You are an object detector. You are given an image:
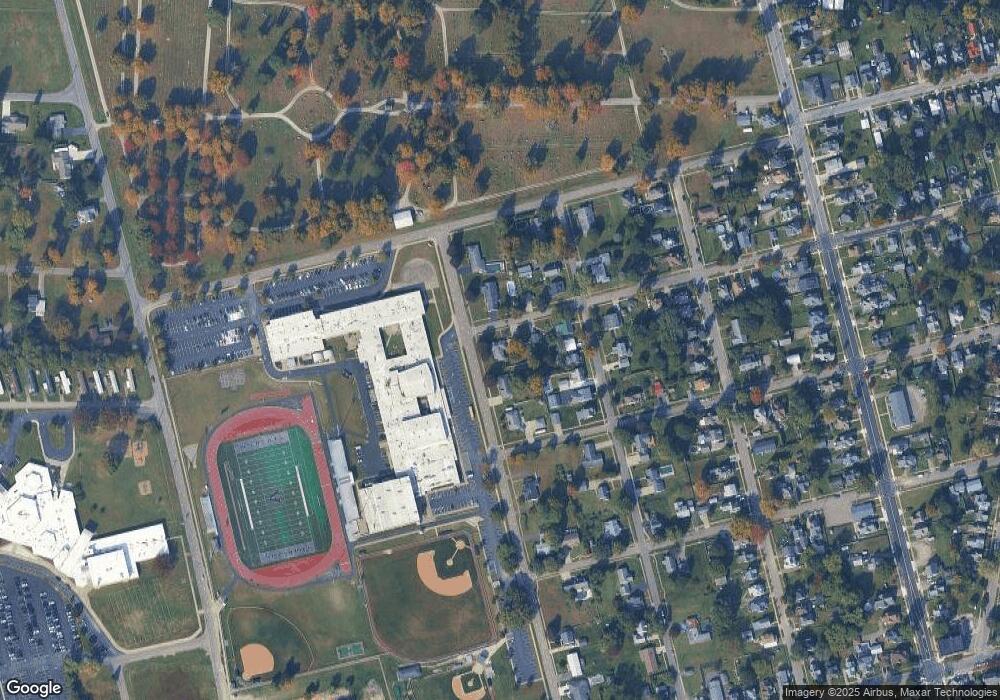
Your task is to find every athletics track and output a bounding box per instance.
[200,388,353,594]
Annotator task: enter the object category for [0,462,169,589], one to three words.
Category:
building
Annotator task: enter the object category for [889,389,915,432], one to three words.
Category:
building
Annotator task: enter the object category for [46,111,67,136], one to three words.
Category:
house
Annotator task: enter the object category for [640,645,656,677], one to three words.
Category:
house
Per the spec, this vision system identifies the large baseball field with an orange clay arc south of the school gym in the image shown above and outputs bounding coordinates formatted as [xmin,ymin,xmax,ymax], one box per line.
[364,529,496,660]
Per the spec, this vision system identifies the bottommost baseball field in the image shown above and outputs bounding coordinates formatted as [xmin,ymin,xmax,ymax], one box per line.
[414,663,496,700]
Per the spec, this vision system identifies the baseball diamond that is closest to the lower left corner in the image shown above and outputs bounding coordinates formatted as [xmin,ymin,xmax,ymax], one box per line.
[228,606,314,689]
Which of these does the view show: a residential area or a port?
residential area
